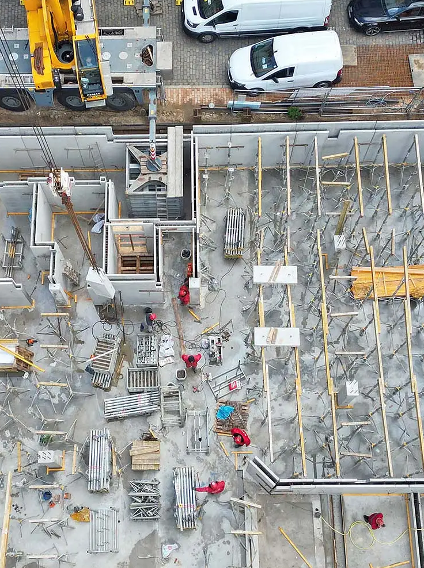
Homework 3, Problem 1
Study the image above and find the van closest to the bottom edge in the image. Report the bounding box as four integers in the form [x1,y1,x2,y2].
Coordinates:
[233,24,346,95]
